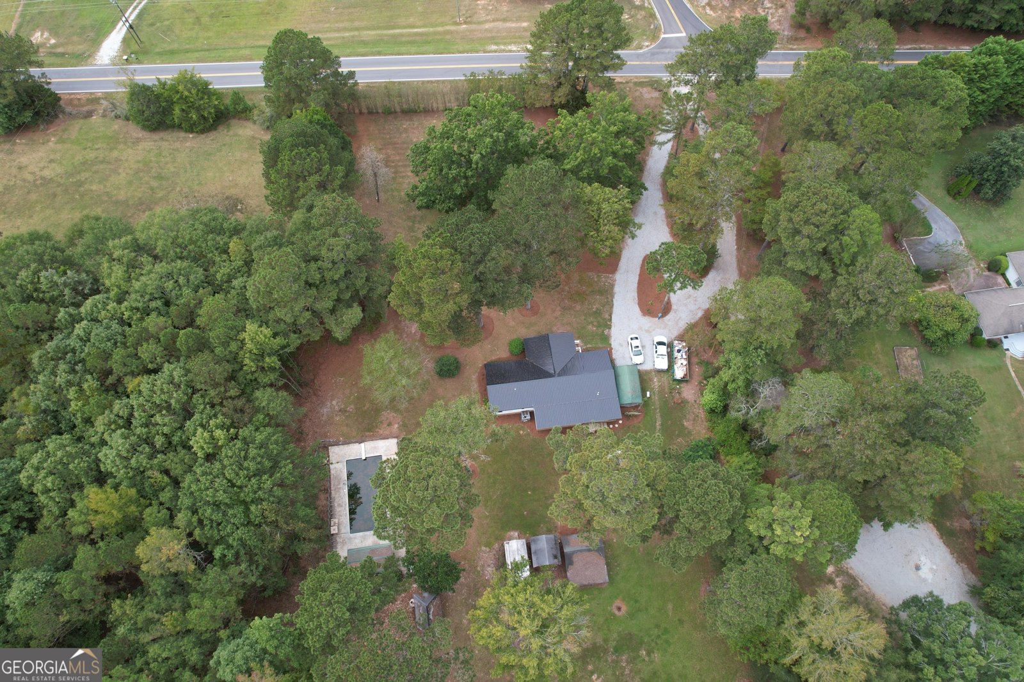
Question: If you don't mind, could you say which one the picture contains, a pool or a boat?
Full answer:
Looking from above, you can make out a pool.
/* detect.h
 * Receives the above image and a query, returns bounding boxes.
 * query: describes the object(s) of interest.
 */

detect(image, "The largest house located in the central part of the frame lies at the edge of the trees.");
[484,331,622,440]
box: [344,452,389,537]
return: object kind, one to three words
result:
swimming pool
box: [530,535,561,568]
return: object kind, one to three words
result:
shed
